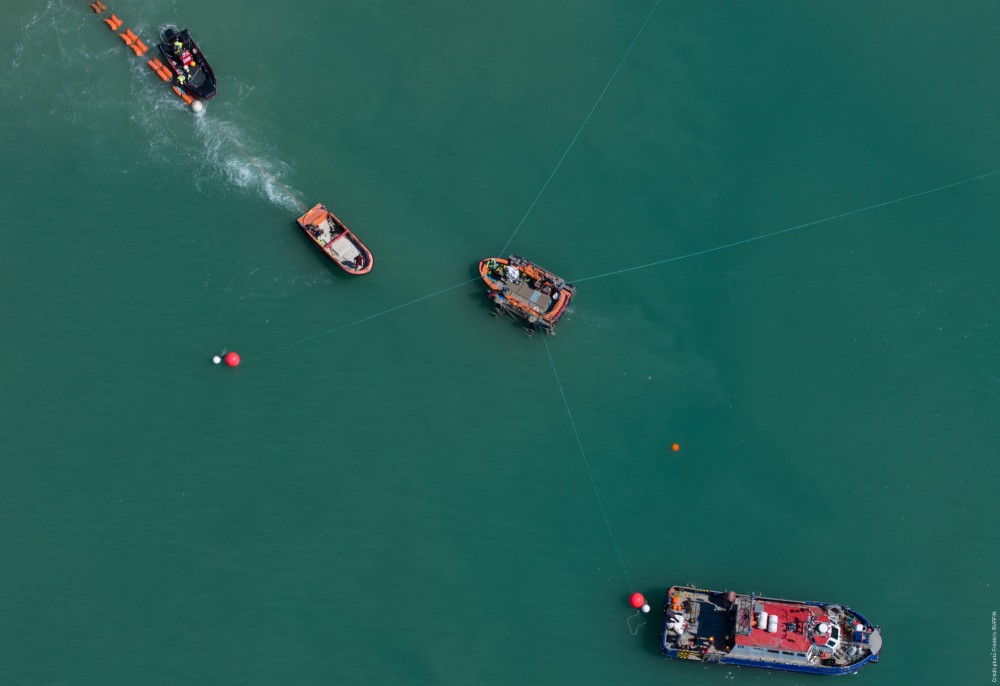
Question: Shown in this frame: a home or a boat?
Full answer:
There is a boat in the scene.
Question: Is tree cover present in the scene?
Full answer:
No, there's no tree cover in this view.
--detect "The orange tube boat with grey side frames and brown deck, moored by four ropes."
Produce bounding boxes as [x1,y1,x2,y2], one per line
[479,254,576,335]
